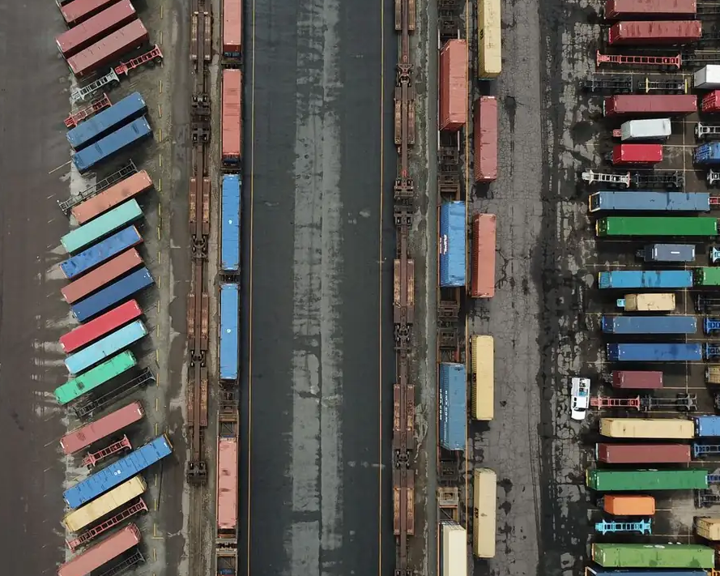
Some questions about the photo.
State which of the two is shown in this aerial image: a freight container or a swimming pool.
freight container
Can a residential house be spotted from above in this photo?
No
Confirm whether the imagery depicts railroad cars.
Yes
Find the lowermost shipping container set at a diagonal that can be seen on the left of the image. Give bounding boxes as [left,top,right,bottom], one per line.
[58,521,140,576]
